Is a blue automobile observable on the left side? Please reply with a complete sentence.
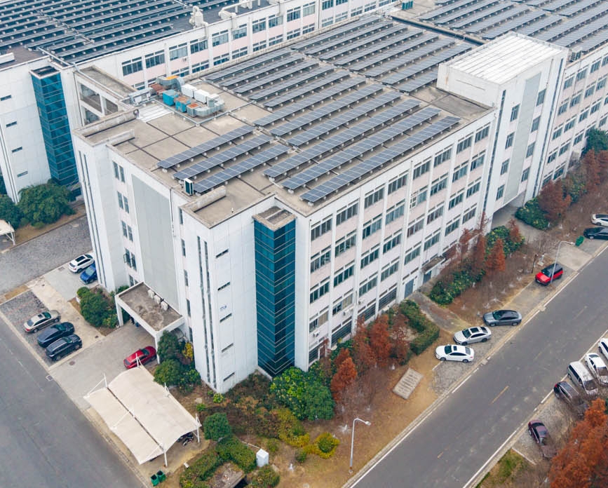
Yes, there is a blue automobile on the left side.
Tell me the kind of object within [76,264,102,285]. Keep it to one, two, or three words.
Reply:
car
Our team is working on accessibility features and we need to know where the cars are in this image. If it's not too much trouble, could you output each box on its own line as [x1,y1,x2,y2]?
[533,263,567,284]
[119,345,155,370]
[435,343,476,364]
[549,378,587,414]
[484,309,522,328]
[76,264,102,285]
[35,323,75,345]
[592,214,608,225]
[563,355,602,395]
[454,328,493,346]
[23,310,62,333]
[584,226,608,239]
[64,252,96,272]
[595,337,608,359]
[523,417,560,457]
[43,334,83,360]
